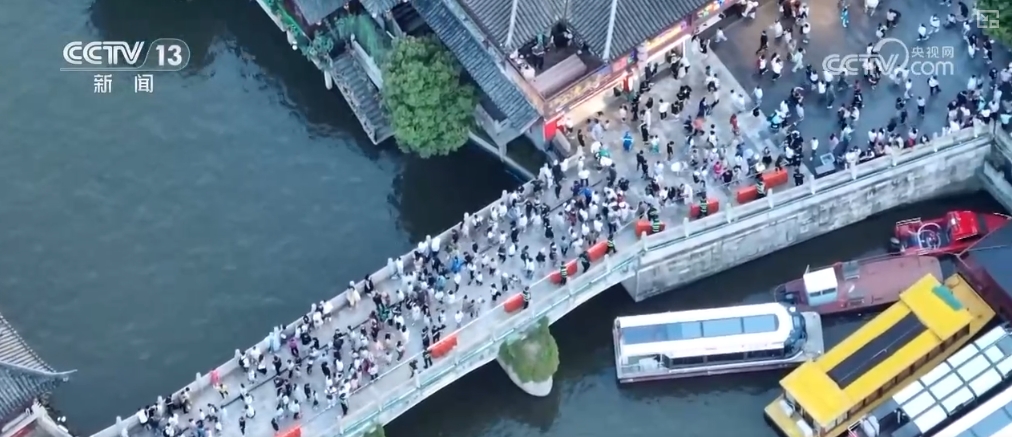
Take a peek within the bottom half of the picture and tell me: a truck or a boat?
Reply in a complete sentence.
The feature located within the bottom half of the picture is a boat.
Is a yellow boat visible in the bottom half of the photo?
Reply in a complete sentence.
Yes, a yellow boat appears in the bottom half of the photo.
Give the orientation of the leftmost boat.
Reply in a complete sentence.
The leftmost boat has been laid out horizontally relative to the frame.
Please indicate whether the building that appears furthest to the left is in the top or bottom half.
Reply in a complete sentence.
You can find the building that appears furthest to the left in the bottom half.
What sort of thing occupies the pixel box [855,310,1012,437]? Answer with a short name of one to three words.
boat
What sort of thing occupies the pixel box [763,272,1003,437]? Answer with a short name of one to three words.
boat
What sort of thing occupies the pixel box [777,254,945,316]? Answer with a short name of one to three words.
vessel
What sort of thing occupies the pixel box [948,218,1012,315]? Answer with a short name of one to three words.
vessel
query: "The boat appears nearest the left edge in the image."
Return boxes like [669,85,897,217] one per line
[611,302,822,383]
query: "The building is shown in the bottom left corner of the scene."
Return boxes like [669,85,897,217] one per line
[0,315,80,437]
